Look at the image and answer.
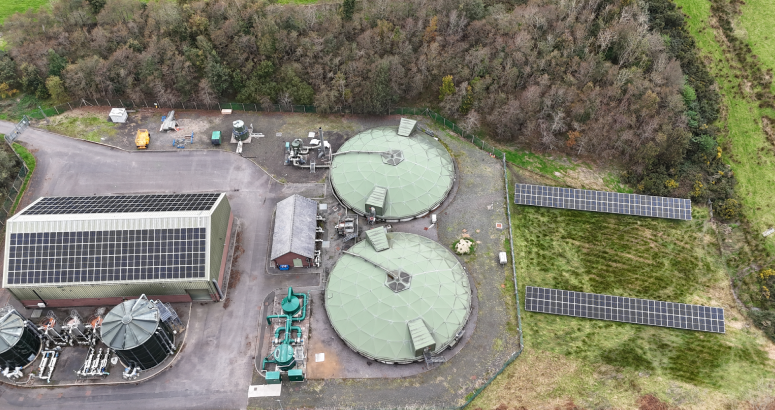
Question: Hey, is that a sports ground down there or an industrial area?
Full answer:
What you see here is an industrial area.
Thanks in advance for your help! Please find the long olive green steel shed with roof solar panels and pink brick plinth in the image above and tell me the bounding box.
[2,191,232,308]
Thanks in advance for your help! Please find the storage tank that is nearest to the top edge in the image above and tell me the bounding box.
[328,119,455,224]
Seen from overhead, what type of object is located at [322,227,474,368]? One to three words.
storage tank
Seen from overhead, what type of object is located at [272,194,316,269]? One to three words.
shed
